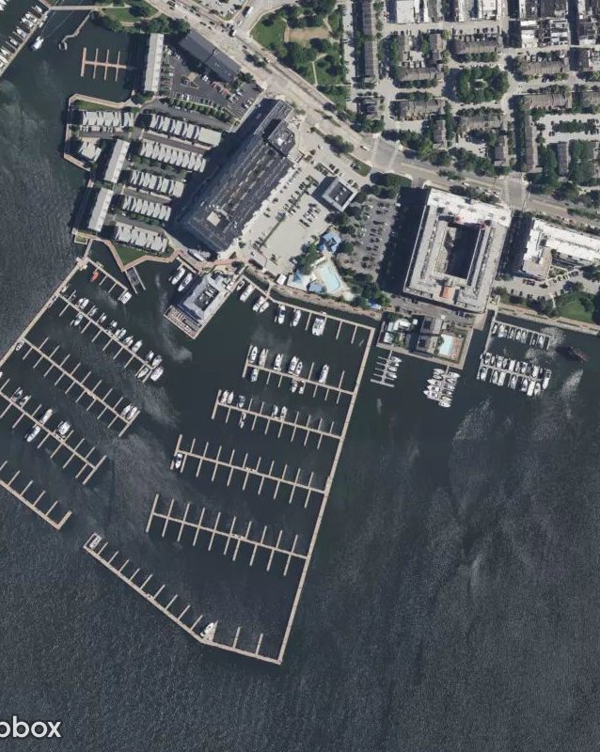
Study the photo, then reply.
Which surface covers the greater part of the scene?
water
